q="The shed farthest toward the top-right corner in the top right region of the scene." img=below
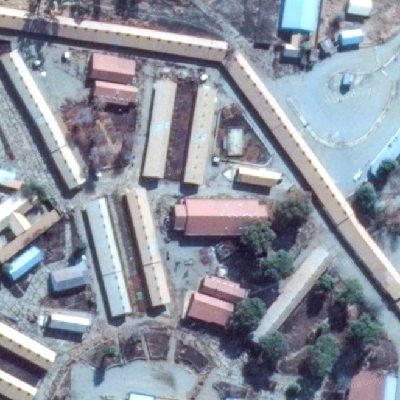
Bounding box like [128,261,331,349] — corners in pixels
[347,0,372,16]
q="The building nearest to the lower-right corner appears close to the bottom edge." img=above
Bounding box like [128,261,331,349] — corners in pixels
[349,372,397,400]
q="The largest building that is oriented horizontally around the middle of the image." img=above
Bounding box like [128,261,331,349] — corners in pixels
[174,199,268,235]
